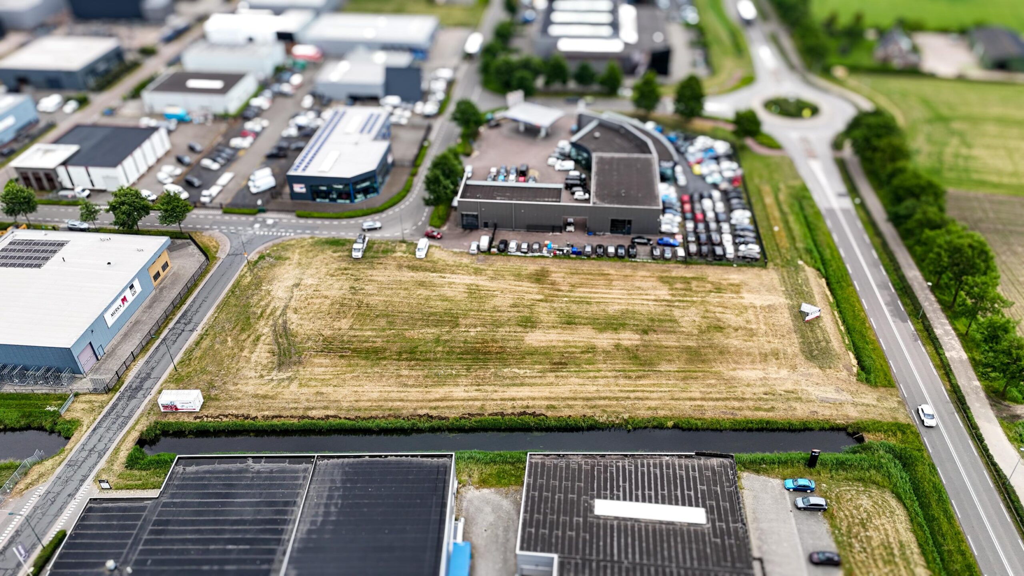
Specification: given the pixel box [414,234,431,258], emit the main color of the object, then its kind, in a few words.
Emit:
white vehicle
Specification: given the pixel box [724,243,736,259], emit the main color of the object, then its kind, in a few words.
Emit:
white vehicle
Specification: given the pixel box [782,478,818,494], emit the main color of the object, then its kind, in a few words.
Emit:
blue car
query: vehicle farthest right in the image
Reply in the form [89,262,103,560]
[916,403,937,429]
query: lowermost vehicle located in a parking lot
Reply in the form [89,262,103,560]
[807,549,843,569]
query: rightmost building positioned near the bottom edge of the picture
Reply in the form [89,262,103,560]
[515,453,758,576]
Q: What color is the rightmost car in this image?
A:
white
